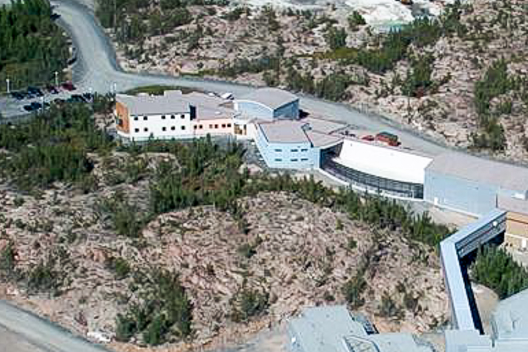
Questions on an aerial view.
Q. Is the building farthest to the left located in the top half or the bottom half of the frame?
top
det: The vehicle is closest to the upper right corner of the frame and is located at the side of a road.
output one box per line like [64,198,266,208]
[375,130,400,146]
